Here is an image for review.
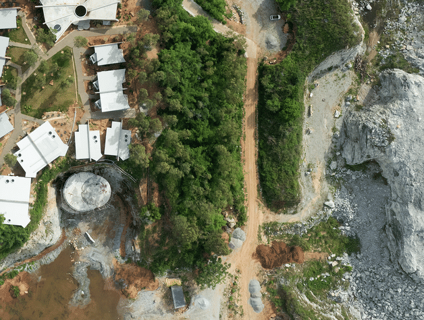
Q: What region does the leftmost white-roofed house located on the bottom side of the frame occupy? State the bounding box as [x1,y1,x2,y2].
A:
[0,174,34,228]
